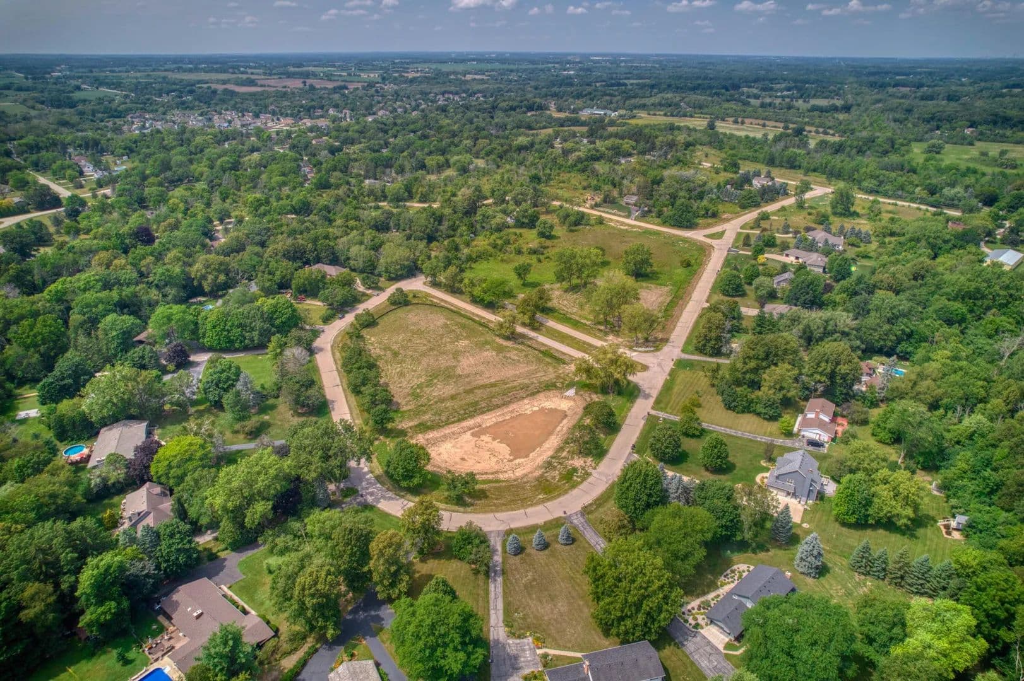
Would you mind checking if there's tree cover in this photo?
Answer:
Yes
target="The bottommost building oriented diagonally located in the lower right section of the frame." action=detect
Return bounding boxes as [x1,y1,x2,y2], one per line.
[702,568,797,650]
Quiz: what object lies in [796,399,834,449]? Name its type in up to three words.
house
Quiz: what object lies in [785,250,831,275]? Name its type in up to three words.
house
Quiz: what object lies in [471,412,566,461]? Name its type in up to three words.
pond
